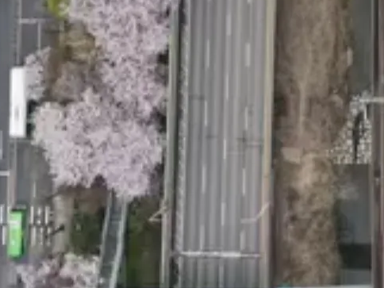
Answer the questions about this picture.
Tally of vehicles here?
two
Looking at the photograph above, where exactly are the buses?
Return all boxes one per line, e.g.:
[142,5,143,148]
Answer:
[9,204,32,255]
[9,67,33,137]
